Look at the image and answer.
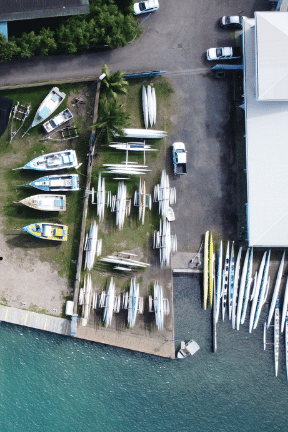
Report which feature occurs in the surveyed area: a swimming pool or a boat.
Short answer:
boat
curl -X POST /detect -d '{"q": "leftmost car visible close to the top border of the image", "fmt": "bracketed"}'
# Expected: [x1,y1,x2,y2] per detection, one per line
[132,0,160,15]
